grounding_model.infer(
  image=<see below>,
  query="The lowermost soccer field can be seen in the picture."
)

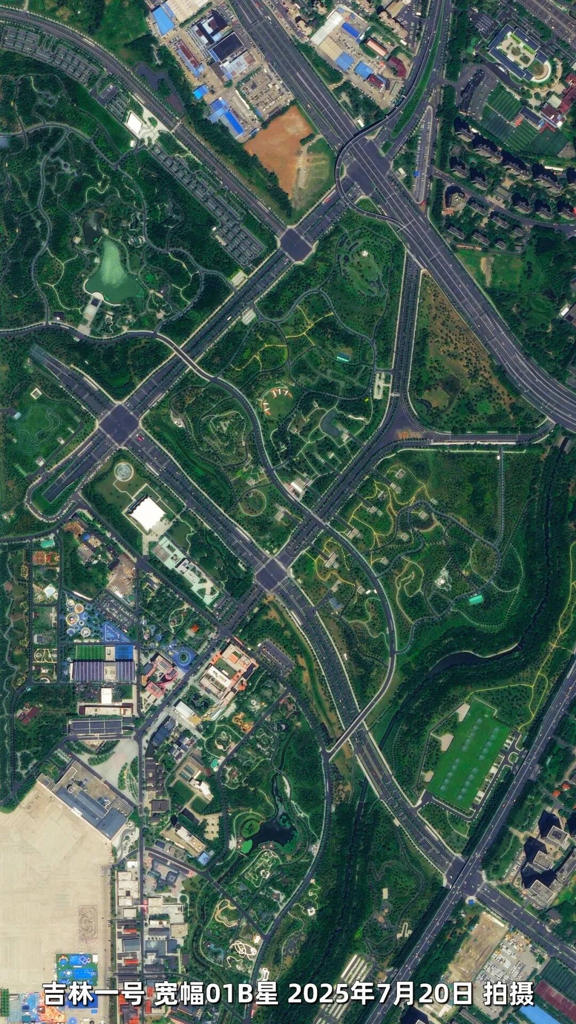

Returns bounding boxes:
[541,958,576,1002]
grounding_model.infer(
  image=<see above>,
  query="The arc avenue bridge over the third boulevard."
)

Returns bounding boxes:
[277,486,352,551]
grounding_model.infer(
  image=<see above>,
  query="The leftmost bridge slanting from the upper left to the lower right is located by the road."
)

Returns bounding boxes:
[150,330,218,383]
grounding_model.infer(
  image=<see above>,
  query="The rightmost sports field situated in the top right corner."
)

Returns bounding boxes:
[528,129,569,155]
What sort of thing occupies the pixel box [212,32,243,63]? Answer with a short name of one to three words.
building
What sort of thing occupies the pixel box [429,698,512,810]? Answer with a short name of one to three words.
sports field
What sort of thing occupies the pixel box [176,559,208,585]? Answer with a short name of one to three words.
building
